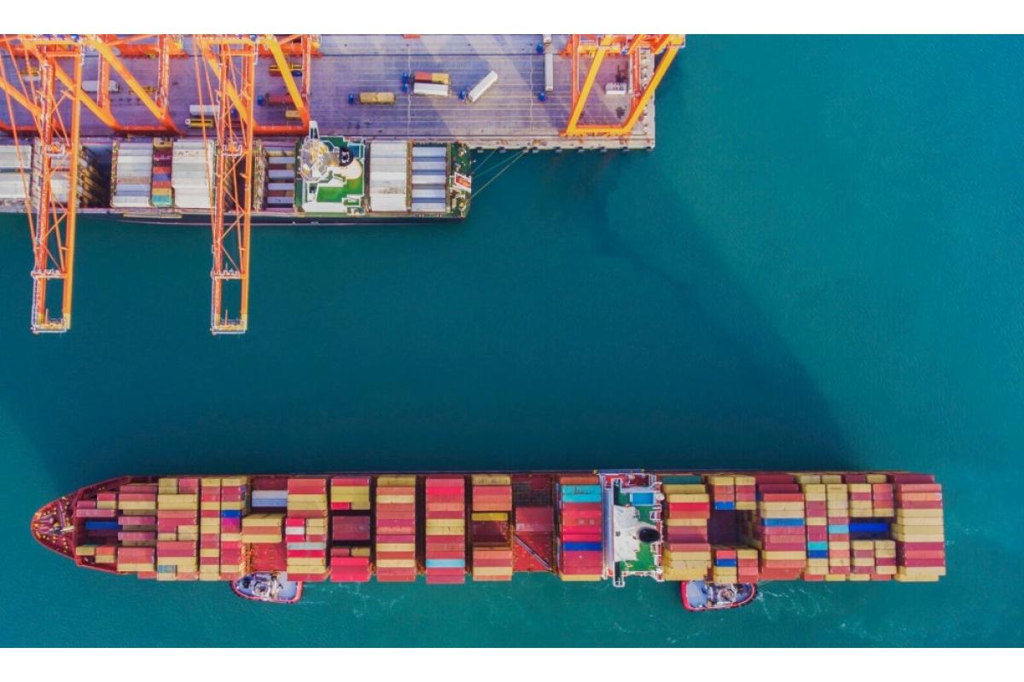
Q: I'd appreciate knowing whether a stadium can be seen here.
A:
No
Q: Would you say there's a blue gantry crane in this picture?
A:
No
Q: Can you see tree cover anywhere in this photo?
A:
No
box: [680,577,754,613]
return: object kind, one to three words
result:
boat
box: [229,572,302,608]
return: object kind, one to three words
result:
boat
